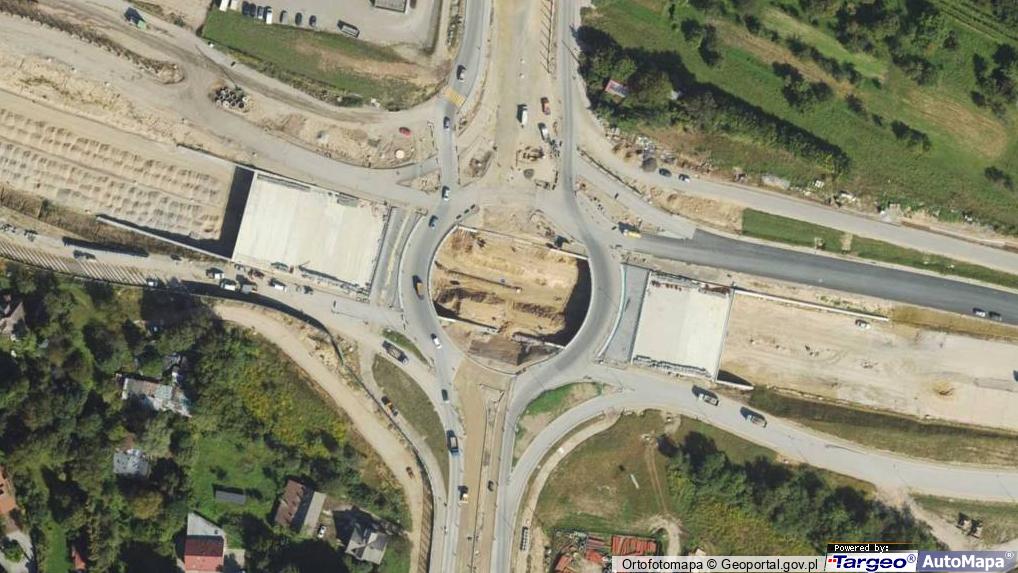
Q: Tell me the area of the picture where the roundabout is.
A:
center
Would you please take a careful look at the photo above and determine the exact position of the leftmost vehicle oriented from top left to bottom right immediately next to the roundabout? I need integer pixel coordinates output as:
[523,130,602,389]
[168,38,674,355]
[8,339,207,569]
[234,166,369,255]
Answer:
[385,344,408,363]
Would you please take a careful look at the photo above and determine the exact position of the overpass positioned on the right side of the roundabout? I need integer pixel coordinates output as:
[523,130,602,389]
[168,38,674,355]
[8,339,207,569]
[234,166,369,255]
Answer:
[633,273,735,378]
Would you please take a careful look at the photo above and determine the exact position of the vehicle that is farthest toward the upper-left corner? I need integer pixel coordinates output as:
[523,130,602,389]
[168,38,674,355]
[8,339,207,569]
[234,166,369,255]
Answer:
[125,13,145,31]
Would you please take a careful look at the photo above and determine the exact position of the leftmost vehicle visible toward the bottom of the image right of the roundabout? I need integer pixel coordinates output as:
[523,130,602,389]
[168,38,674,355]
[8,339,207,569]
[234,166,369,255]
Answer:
[698,393,720,406]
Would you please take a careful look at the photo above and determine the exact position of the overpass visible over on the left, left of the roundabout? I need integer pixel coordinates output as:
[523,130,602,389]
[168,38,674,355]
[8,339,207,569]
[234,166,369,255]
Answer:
[233,172,388,292]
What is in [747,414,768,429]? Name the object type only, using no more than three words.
vehicle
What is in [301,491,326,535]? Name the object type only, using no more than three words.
shed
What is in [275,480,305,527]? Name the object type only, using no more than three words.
barn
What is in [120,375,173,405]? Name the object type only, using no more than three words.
house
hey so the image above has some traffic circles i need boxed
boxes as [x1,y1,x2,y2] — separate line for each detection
[398,187,622,403]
